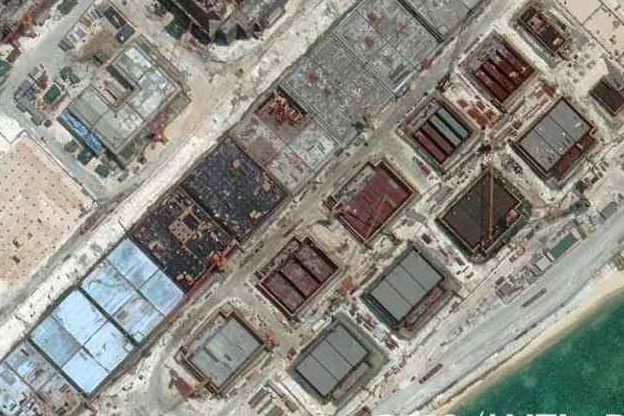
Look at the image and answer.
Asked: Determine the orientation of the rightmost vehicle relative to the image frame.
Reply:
diagonally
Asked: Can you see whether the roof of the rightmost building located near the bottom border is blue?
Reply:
No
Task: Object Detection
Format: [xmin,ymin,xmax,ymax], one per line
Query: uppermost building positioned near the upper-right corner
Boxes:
[518,6,566,55]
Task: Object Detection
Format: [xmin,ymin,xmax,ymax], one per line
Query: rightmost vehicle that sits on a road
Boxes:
[523,287,547,307]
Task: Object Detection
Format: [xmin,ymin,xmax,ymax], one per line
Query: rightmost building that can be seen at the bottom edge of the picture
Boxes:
[291,322,378,404]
